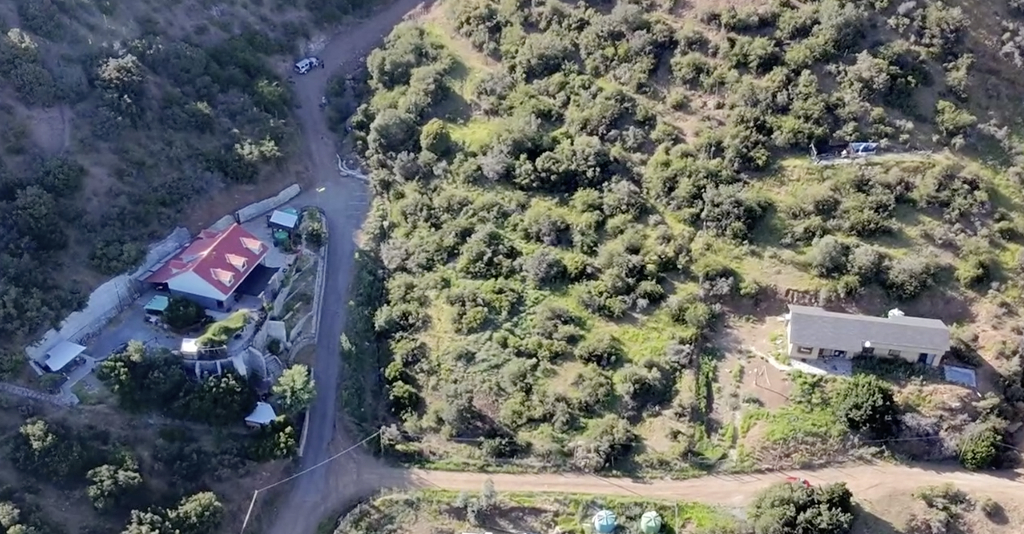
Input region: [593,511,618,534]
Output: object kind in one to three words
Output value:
water tank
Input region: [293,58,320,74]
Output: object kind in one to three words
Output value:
car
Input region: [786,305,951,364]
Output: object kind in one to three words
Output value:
house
